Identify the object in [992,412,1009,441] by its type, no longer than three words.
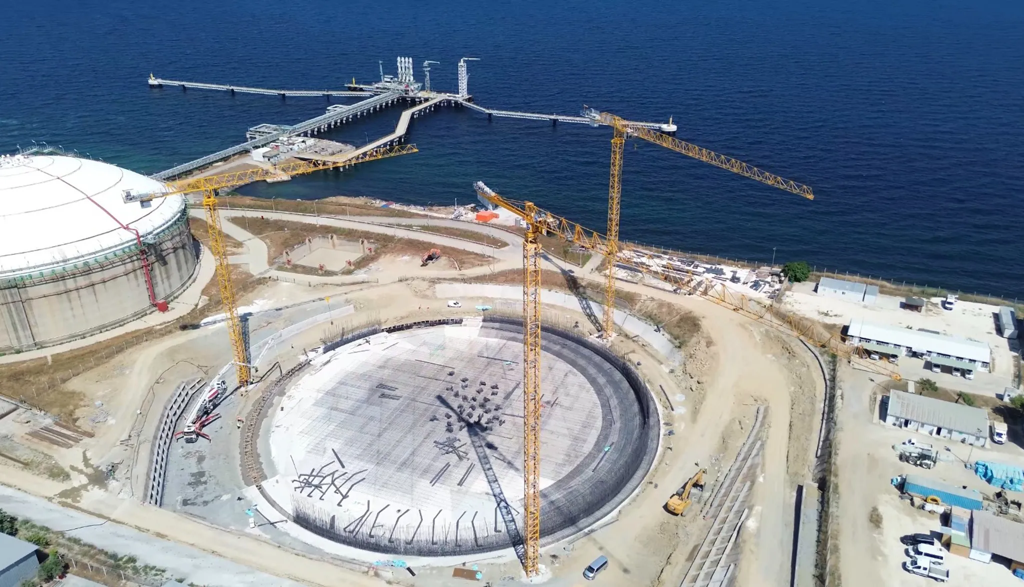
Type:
vehicle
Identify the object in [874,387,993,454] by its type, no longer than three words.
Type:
building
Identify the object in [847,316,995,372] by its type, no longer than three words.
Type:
building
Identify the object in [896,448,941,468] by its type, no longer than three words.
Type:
work vehicle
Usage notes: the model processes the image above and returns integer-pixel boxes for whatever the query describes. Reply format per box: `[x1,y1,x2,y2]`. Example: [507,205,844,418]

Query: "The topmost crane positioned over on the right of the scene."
[586,104,818,344]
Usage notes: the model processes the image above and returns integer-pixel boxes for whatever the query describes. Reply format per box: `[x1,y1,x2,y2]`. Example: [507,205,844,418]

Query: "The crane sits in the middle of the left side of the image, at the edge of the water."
[120,140,420,394]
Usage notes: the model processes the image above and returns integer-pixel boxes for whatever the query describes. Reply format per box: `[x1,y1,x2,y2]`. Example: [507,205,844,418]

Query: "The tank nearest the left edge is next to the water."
[0,140,198,348]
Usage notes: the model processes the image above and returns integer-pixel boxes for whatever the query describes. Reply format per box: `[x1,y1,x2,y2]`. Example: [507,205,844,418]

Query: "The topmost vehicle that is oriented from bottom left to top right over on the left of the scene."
[179,341,279,425]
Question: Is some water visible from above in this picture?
Yes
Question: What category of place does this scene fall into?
industrial area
